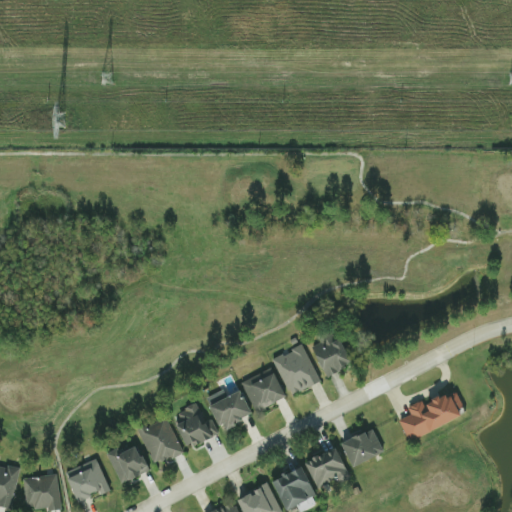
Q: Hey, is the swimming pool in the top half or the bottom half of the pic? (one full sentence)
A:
The swimming pool is in the bottom half of the image.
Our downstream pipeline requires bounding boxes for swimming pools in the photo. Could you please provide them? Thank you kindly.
[218,376,240,398]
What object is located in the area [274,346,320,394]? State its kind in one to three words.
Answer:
house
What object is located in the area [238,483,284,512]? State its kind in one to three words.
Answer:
house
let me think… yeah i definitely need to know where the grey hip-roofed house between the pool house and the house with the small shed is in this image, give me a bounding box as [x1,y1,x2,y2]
[243,368,286,413]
